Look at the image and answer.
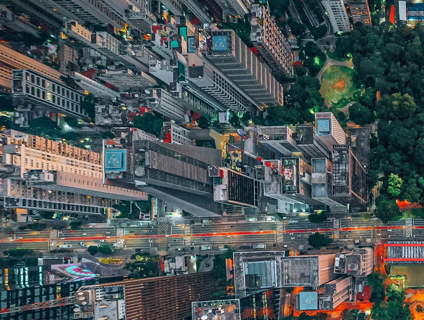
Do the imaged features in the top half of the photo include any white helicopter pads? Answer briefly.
No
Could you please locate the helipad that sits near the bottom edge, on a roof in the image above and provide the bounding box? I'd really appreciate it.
[300,292,317,311]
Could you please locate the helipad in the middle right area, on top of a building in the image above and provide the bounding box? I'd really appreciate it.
[317,119,331,133]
